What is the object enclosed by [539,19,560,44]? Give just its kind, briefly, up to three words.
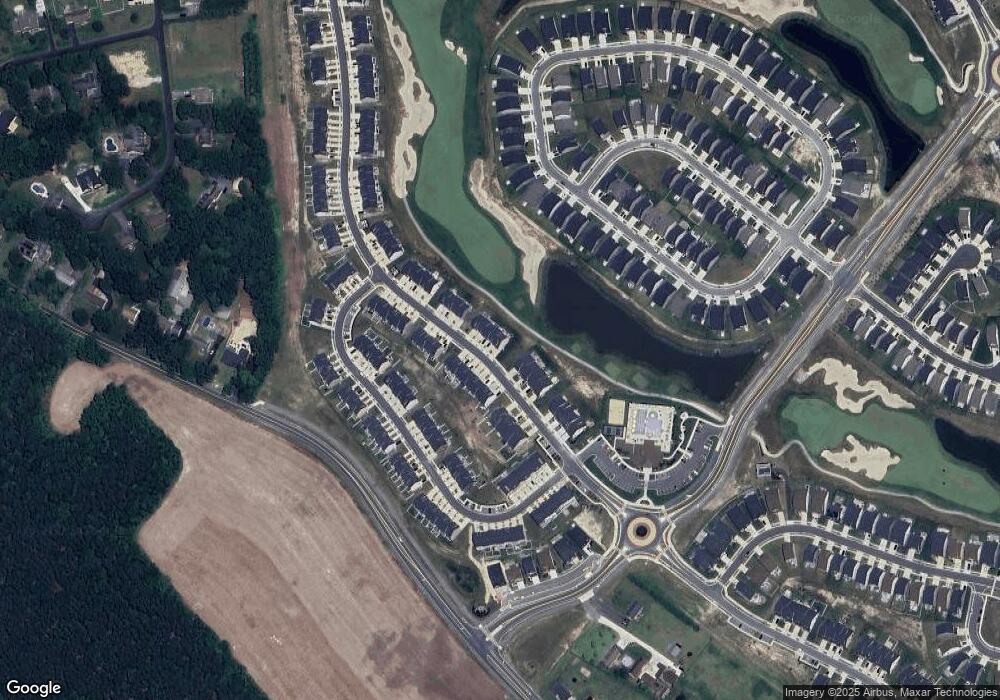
house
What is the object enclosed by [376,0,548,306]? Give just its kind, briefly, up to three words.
golf course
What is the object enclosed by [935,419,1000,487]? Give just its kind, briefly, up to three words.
pond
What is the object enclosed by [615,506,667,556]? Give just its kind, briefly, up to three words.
roundabout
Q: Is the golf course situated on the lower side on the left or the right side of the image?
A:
right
